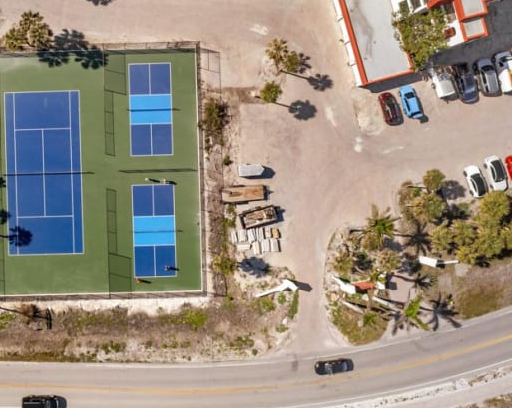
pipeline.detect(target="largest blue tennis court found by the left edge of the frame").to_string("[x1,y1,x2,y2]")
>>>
[4,91,88,256]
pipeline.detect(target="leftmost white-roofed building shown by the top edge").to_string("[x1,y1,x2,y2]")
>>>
[326,0,415,86]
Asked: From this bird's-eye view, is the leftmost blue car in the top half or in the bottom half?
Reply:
top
